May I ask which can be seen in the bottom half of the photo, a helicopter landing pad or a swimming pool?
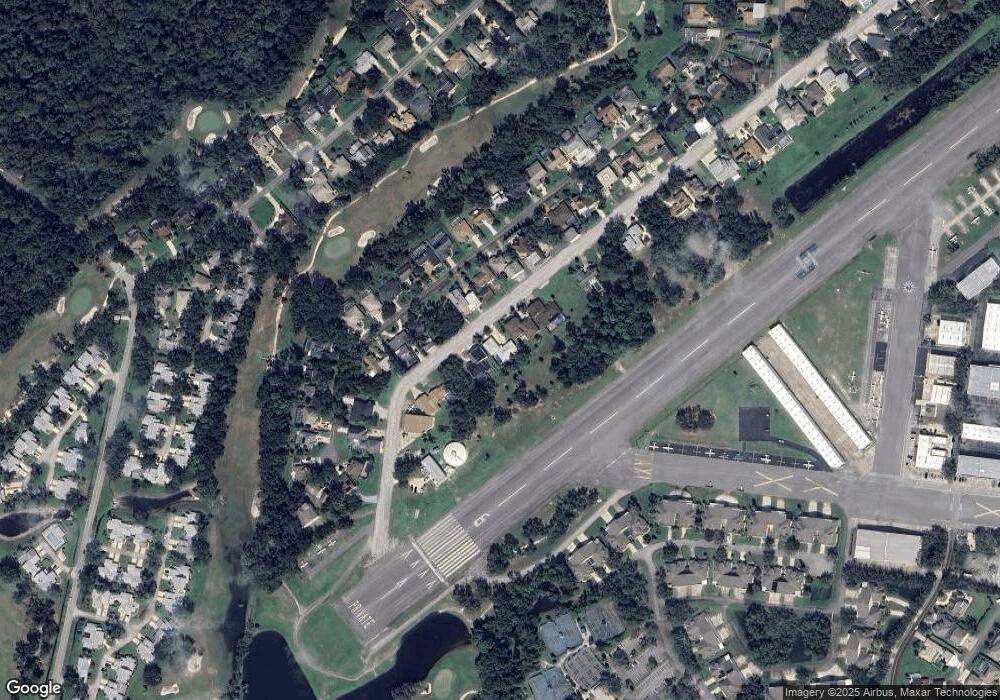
swimming pool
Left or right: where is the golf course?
left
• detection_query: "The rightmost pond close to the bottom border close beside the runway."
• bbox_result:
[336,610,472,700]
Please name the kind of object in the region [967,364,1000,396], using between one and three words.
building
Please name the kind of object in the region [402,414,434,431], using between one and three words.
house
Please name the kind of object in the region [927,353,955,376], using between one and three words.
hangar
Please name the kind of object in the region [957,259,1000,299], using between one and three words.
hangar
